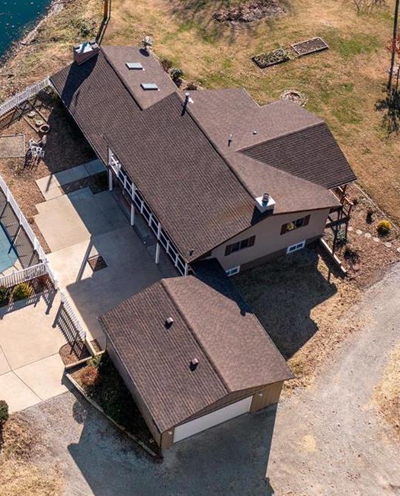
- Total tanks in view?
none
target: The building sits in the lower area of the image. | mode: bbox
[99,260,298,447]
